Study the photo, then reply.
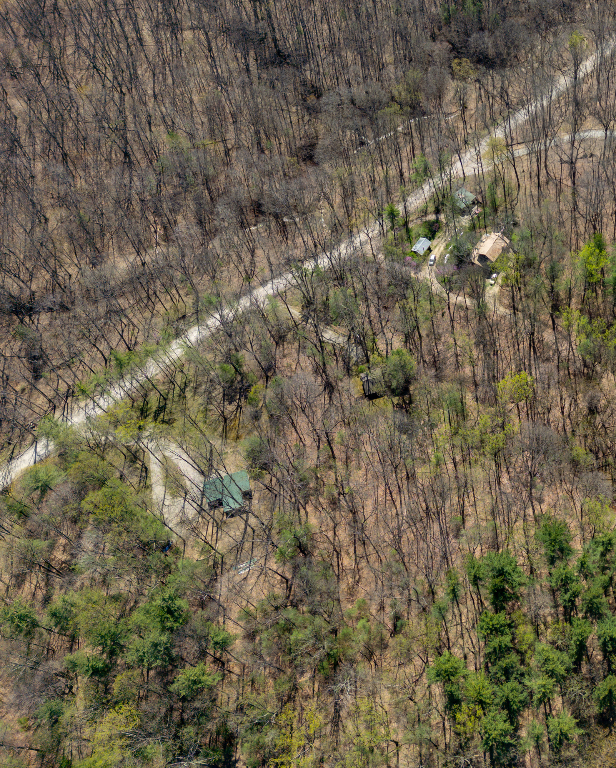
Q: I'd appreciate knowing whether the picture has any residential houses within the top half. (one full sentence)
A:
Yes, I can see a residential house within the top half.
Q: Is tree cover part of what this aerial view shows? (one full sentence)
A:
Yes, there's tree cover in this view.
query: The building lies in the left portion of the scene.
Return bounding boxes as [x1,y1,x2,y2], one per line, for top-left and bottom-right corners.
[204,469,253,514]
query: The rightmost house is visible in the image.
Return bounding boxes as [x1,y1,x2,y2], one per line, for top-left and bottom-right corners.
[469,233,510,268]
